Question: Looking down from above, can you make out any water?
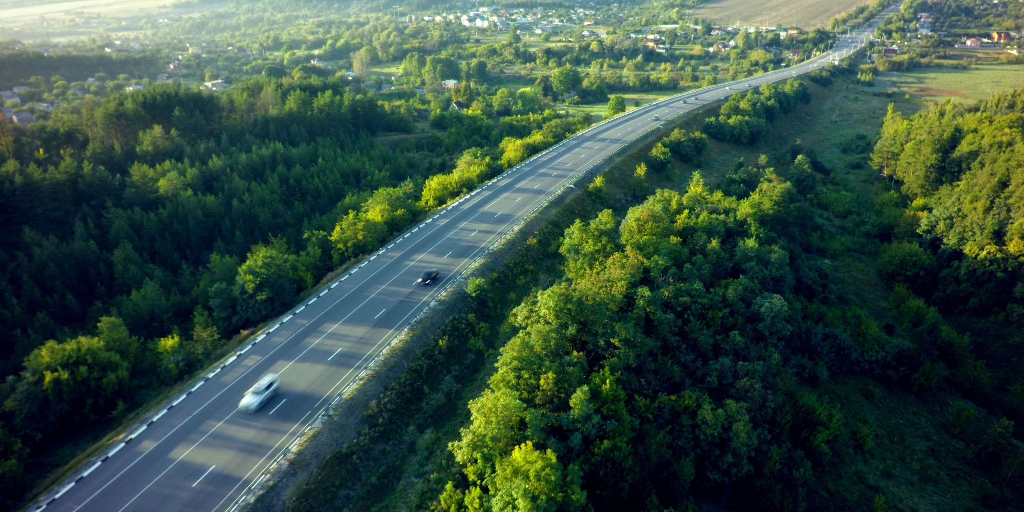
No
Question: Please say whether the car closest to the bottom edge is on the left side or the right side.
left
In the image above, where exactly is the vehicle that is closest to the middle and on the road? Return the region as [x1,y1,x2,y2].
[417,266,439,284]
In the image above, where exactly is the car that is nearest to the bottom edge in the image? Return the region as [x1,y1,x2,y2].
[241,376,281,410]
